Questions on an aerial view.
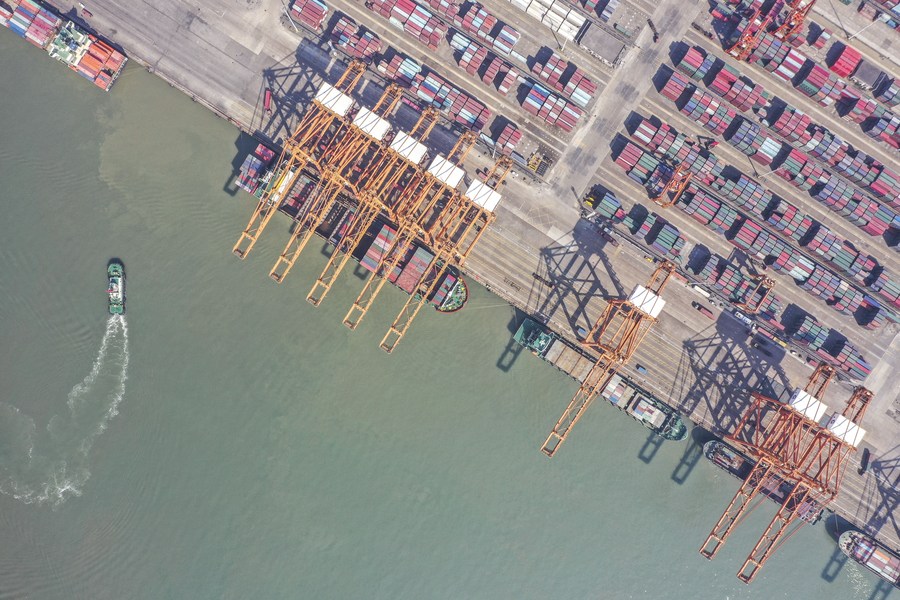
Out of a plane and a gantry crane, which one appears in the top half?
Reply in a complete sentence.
What appears in the top half is a gantry crane.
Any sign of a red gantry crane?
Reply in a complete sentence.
Yes, the frame does contain a red gantry crane.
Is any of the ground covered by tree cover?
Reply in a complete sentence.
No, the picture contains no tree cover.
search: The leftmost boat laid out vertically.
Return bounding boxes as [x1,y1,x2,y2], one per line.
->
[102,259,126,314]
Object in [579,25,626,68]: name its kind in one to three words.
shed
